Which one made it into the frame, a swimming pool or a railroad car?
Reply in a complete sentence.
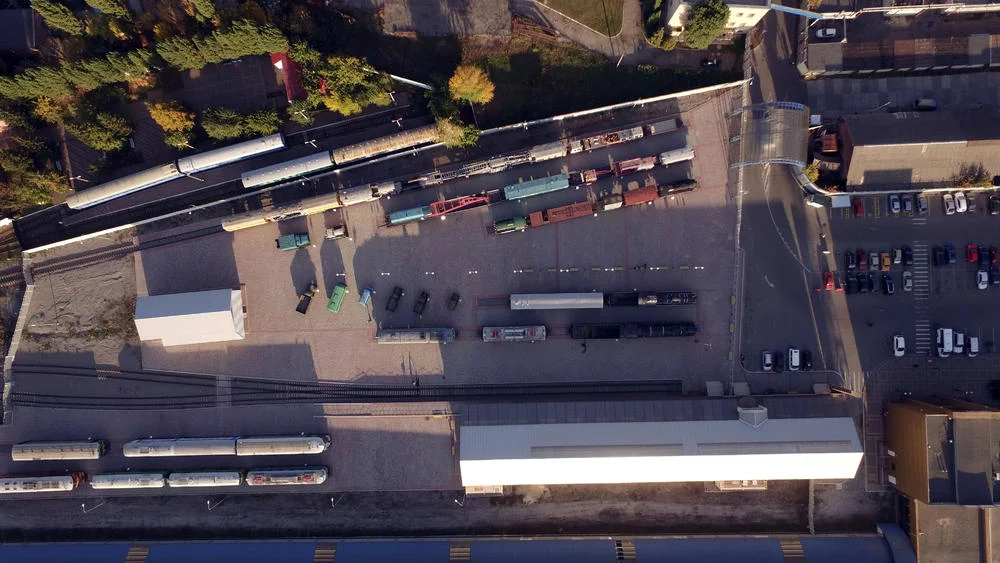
There is a railroad car in the scene.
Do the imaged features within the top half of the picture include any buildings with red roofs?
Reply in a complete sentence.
Yes, a building with a red roof is visible within the top half of the picture.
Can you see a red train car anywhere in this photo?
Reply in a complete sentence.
Yes, the frame does contain a red train car.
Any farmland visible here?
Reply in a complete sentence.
No, there's no farmland in this view.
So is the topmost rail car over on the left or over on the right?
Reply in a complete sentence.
It is on the right.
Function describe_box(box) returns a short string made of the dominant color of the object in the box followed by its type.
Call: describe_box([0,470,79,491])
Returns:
gray rail car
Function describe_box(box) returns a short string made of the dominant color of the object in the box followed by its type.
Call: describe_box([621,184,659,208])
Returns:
red rail car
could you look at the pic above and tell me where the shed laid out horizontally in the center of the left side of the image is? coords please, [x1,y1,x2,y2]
[134,289,246,345]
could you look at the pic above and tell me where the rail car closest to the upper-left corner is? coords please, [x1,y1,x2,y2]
[225,192,343,235]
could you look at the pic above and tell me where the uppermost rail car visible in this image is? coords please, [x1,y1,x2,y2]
[643,117,683,139]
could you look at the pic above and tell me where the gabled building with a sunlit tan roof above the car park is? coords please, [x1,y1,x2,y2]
[837,111,1000,191]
